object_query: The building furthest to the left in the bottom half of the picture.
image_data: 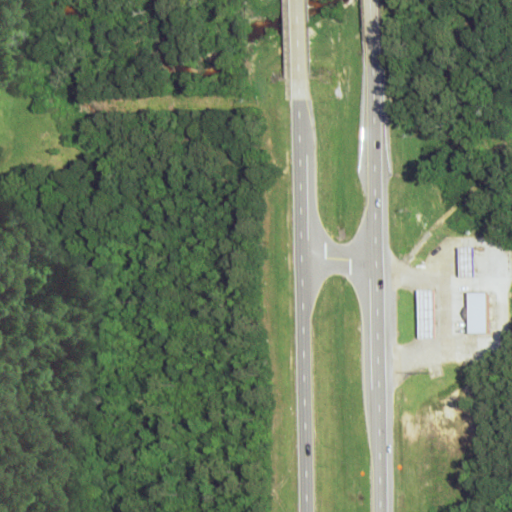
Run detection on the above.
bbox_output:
[416,290,434,339]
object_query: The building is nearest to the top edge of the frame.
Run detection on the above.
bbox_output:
[458,248,472,277]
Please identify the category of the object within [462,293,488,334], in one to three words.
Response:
building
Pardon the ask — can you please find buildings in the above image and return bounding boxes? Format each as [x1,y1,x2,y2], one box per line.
[462,293,488,334]
[416,290,434,339]
[458,248,472,277]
